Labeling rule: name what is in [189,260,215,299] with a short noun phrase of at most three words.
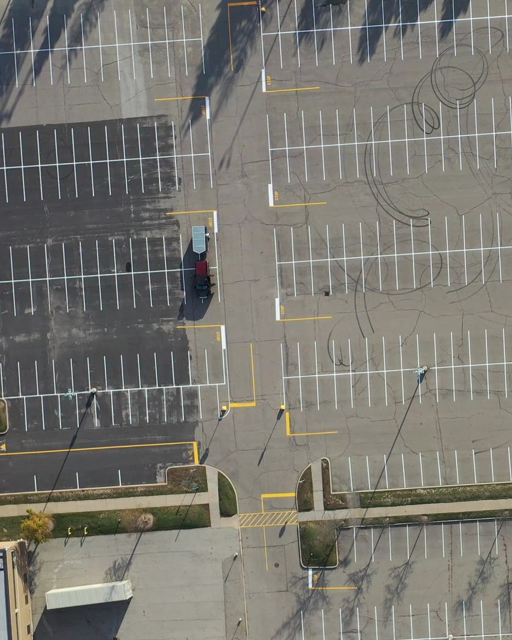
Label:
truck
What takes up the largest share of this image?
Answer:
paved ground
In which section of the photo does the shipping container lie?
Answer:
bottom left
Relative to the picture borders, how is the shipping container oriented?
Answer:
horizontally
